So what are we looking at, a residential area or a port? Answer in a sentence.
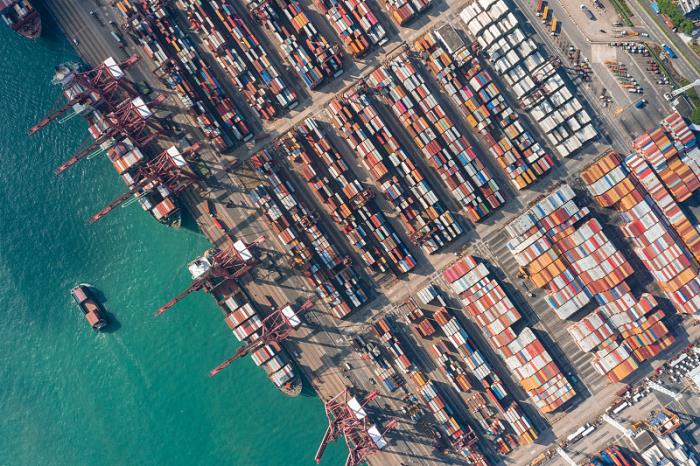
This image shows a port.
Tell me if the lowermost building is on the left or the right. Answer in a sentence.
You can find the lowermost building on the right side of the picture.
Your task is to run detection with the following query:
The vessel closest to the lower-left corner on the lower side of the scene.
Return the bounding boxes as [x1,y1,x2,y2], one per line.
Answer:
[71,287,106,331]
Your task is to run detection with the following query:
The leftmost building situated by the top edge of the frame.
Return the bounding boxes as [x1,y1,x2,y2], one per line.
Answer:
[433,23,463,57]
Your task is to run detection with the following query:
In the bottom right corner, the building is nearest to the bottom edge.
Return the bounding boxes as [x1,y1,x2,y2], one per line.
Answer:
[629,428,654,450]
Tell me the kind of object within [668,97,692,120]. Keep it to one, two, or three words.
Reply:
building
